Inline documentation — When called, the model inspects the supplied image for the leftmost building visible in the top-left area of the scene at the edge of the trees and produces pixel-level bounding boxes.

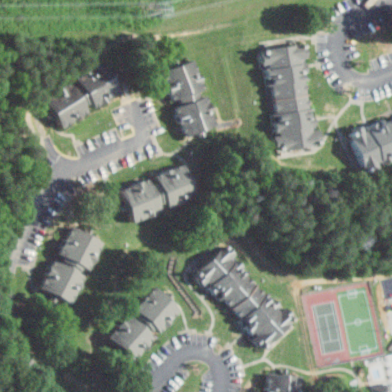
[45,66,114,129]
